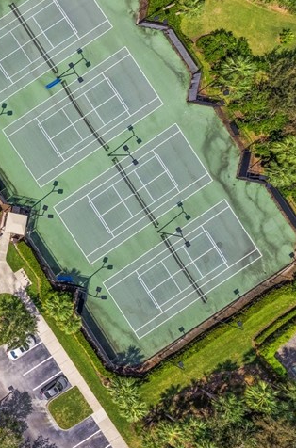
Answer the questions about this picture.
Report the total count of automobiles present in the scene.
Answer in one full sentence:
In total, 2 automobiles can be seen.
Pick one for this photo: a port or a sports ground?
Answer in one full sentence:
The area seen from above is a sports ground.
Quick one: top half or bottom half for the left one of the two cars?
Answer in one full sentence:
The left one of the two cars is in the bottom half of the image.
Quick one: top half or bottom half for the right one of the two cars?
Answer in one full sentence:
It is in the bottom half that the right one of the two cars appears.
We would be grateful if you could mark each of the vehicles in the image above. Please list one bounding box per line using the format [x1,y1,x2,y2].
[37,372,66,396]
[8,335,38,359]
